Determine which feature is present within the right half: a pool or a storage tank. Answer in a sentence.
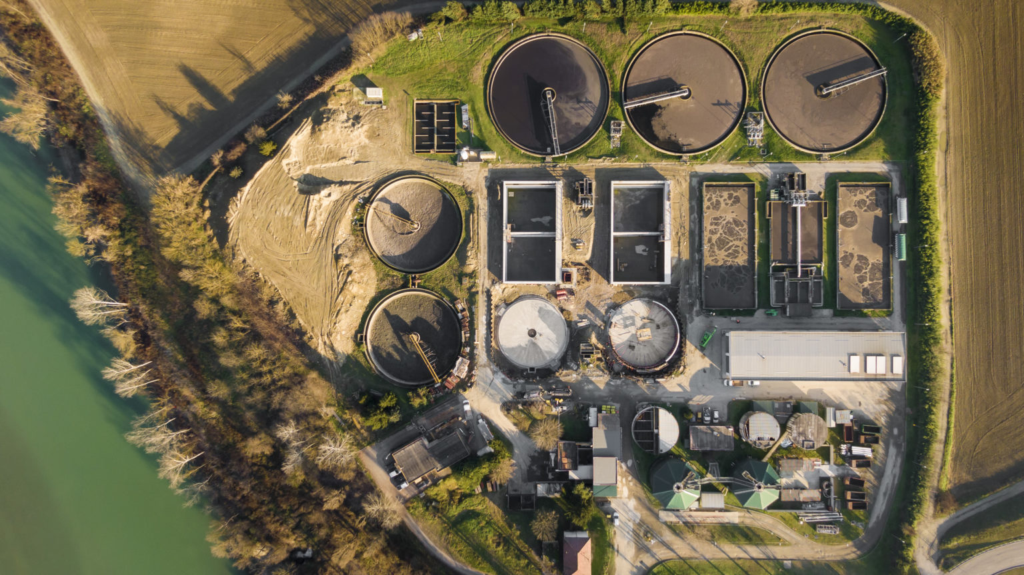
You can see a storage tank within the right half.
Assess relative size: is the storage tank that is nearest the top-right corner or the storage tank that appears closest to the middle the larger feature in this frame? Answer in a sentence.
Compared with the storage tank that appears closest to the middle, the storage tank that is nearest the top-right corner is the larger one.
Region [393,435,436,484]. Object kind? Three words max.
house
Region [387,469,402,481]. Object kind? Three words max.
vehicle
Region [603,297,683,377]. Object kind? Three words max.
storage tank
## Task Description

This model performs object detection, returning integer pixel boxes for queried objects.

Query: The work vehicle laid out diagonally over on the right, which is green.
[699,326,719,349]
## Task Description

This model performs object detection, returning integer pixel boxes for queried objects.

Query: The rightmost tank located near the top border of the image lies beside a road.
[761,27,889,159]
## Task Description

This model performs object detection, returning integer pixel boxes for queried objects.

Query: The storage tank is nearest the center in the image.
[496,296,569,373]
